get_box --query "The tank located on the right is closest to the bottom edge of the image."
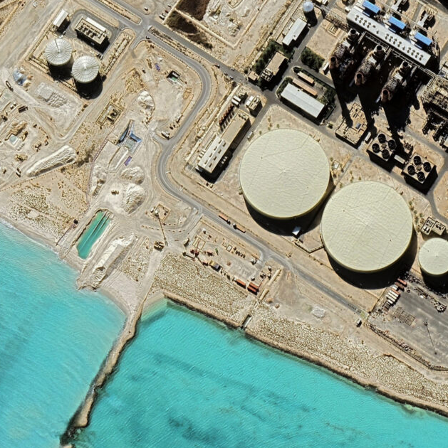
[418,238,448,277]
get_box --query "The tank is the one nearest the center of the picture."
[239,128,329,220]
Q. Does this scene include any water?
Yes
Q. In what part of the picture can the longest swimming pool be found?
left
